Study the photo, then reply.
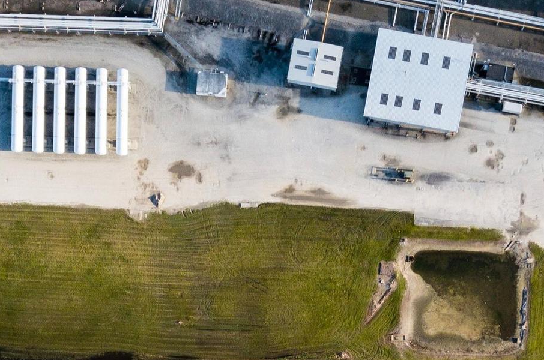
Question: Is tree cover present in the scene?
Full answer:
No, there's no tree cover in this view.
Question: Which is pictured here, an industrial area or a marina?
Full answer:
It's an industrial area.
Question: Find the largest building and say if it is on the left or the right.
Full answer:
The largest building is on the right side of the image.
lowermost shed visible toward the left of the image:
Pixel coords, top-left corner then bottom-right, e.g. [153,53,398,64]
[196,68,228,98]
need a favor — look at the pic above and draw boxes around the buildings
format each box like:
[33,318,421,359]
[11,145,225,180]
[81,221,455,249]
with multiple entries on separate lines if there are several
[196,68,228,98]
[288,38,344,91]
[363,28,474,133]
